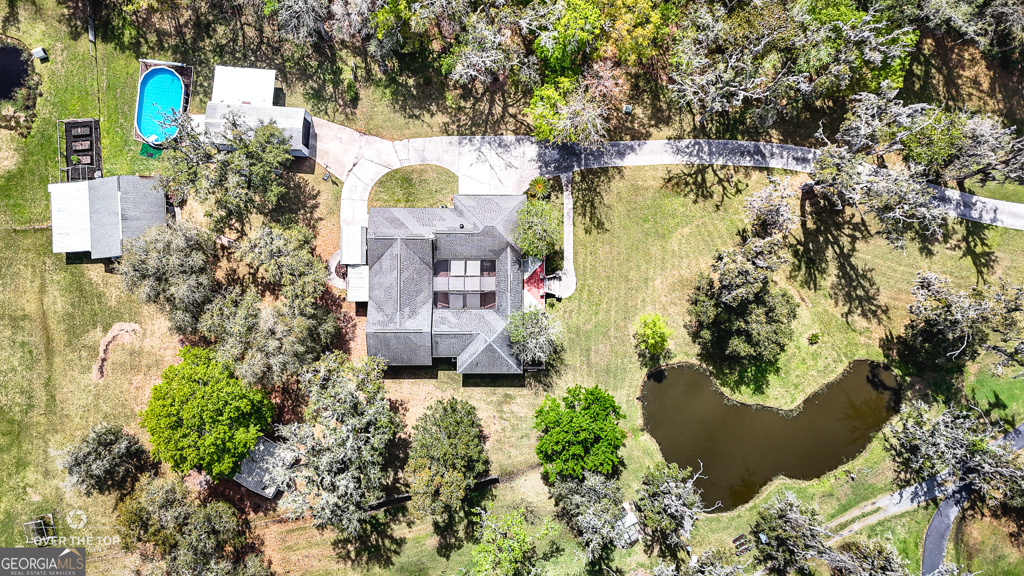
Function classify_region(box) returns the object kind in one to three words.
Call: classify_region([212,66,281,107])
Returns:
shed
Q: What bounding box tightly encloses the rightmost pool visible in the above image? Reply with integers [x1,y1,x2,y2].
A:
[136,66,188,144]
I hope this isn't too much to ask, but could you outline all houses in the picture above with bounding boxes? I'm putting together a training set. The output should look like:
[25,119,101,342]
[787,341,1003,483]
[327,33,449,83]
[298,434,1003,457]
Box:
[49,176,175,261]
[366,194,527,374]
